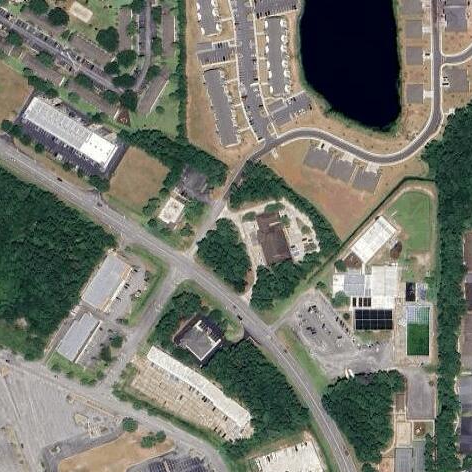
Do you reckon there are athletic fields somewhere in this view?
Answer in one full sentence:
Yes, there is an athletic field in the image.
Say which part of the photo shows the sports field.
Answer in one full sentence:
The sports field sits in the right section of the image.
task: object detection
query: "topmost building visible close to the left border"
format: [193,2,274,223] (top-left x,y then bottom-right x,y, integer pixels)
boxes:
[21,9,65,37]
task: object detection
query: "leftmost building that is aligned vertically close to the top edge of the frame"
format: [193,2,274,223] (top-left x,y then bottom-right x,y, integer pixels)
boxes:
[117,8,132,50]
